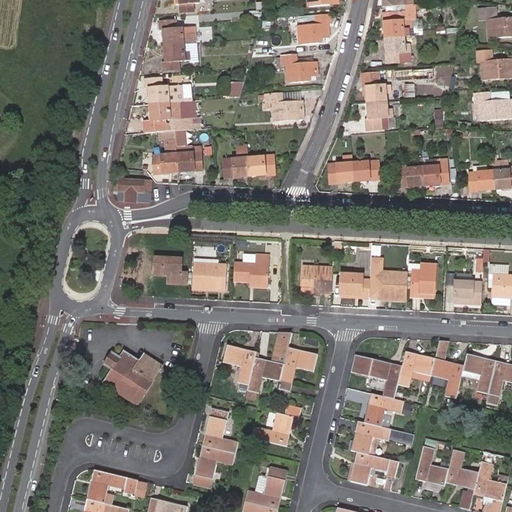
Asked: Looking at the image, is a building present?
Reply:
Yes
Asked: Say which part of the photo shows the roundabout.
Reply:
left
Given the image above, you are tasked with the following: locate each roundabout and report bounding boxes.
[50,199,127,322]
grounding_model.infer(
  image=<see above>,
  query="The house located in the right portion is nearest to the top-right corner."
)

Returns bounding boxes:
[478,7,512,38]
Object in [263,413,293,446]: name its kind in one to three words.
house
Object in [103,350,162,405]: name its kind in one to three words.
building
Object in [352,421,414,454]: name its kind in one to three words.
house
